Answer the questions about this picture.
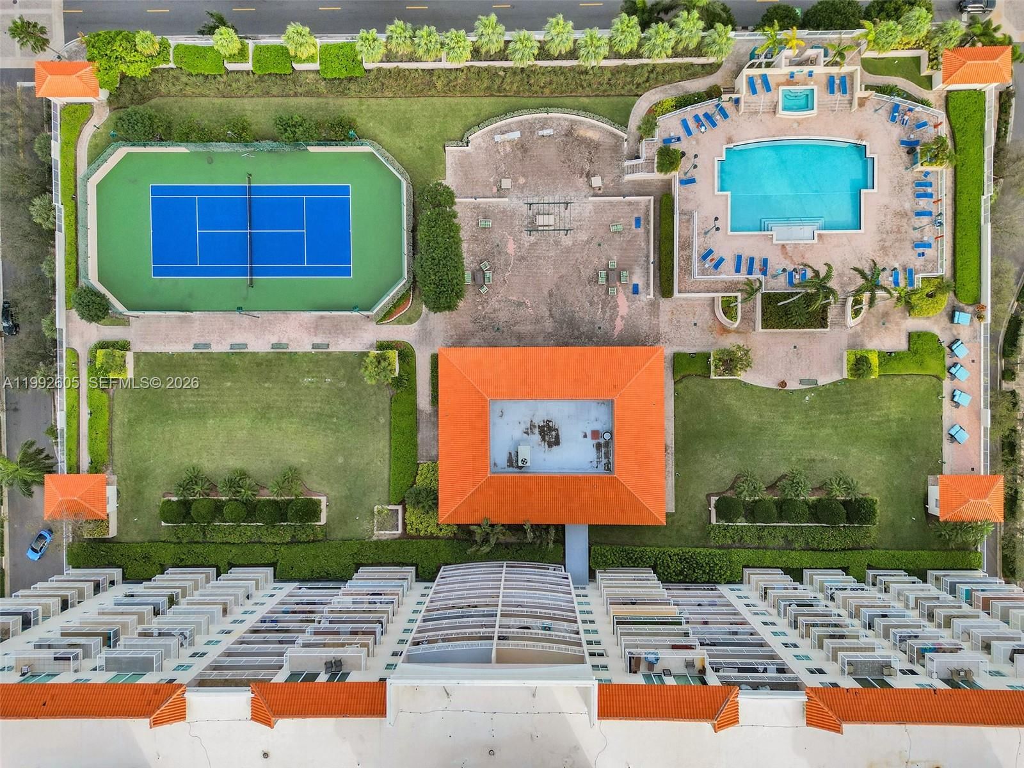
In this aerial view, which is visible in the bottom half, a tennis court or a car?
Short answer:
car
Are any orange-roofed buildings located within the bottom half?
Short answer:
Yes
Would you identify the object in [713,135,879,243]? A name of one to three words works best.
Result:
swimming pool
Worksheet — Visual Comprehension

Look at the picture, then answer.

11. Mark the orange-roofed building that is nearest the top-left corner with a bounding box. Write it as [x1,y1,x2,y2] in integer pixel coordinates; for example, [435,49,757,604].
[33,61,117,106]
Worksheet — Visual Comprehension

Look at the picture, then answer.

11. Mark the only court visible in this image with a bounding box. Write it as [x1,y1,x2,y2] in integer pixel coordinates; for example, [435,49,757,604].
[95,151,405,312]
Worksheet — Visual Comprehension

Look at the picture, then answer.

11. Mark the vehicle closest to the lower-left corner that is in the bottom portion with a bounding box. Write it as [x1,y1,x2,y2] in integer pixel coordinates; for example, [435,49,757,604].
[29,528,56,562]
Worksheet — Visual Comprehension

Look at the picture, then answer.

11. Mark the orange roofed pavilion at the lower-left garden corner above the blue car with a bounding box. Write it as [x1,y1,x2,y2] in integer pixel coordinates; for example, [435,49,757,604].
[43,474,122,538]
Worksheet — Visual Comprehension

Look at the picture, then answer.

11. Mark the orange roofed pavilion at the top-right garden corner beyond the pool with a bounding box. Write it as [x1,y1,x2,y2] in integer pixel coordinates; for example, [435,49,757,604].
[925,45,1014,95]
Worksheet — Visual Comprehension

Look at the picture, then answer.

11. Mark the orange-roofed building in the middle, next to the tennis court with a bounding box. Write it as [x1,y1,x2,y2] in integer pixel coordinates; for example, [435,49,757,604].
[437,347,667,526]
